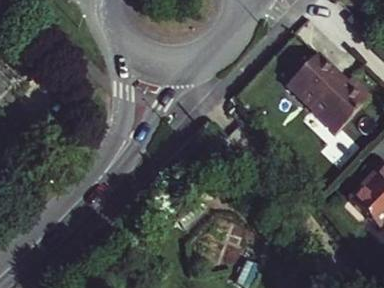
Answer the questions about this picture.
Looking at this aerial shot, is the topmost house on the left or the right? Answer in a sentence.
You can find the topmost house on the right side of the picture.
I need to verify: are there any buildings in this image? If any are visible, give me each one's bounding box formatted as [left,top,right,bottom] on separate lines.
[288,52,378,132]
[236,260,256,288]
[355,166,384,226]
